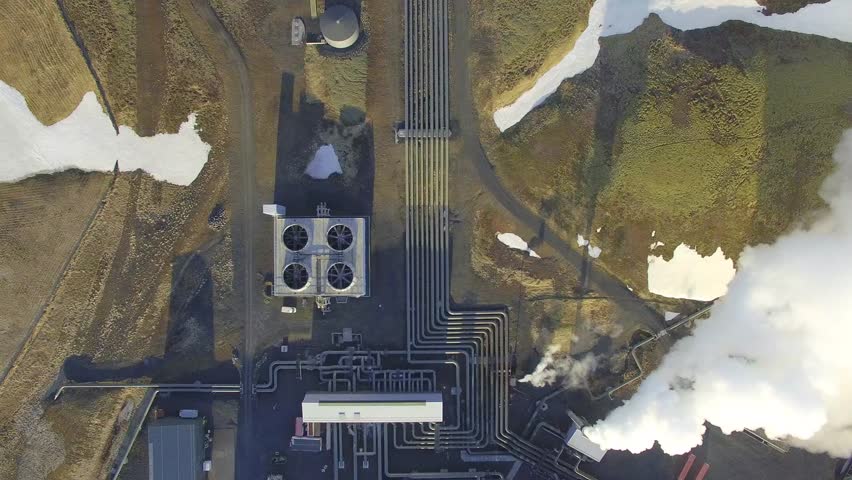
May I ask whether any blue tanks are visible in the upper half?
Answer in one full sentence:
No, I can find no blue tank in the upper half.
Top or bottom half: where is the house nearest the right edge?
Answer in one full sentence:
Seen from above, the house nearest the right edge lies in the bottom half of the view.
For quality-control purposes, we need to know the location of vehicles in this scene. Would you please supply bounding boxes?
[280,306,297,314]
[267,473,283,480]
[180,408,200,418]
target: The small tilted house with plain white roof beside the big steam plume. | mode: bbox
[563,421,609,463]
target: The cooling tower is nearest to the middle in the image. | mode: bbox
[272,201,370,312]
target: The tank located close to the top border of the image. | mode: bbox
[305,4,362,47]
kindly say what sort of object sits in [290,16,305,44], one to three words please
shed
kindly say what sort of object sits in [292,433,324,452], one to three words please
building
